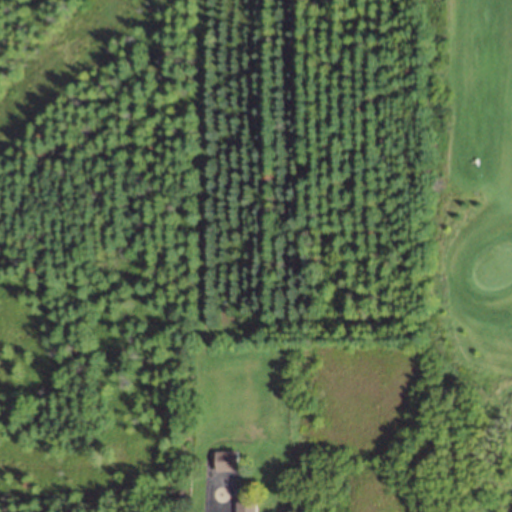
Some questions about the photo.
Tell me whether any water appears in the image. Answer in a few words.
No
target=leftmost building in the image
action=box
[214,452,238,474]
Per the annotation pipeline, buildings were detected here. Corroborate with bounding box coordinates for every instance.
[236,502,259,512]
[214,452,238,474]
